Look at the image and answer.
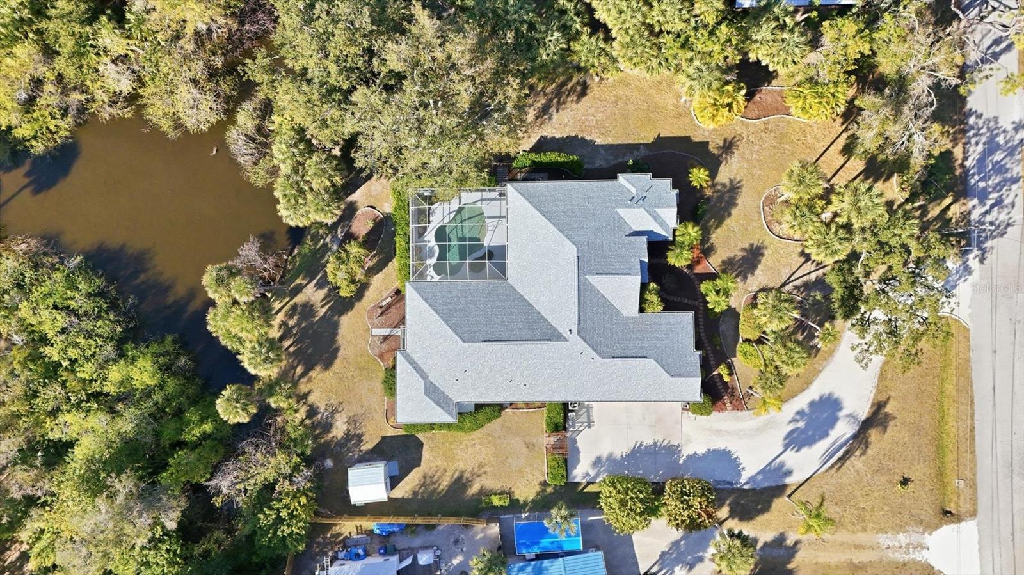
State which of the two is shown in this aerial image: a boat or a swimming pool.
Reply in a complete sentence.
I can see a swimming pool in this picture.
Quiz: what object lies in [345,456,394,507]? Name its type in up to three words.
shed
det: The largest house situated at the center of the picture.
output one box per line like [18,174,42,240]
[396,173,704,424]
